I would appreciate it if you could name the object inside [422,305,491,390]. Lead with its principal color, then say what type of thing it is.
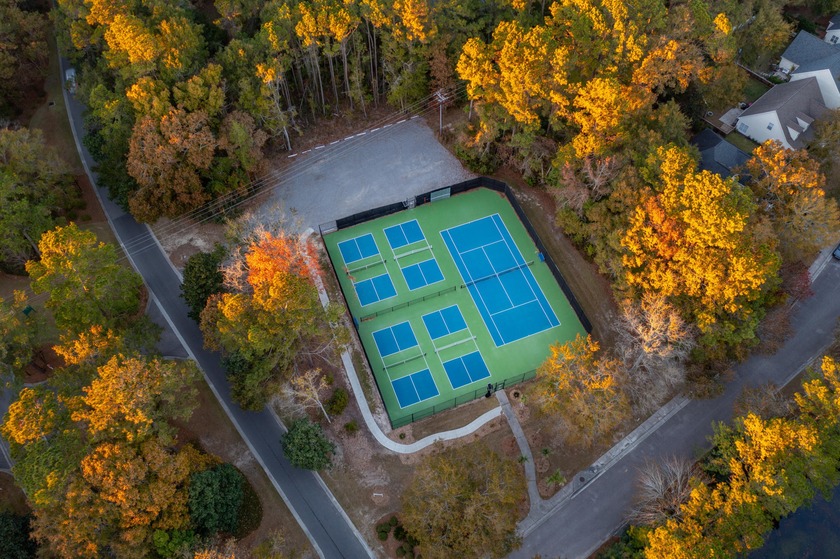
blue sports court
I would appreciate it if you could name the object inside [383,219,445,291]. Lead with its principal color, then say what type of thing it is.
blue sports court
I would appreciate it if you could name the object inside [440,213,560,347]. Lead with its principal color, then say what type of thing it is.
blue tennis court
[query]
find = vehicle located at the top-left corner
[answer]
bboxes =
[63,70,78,89]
